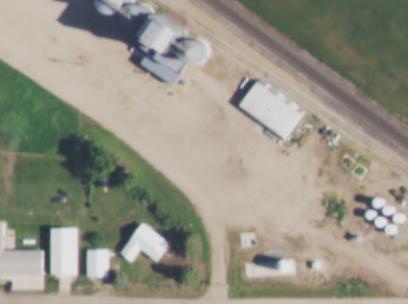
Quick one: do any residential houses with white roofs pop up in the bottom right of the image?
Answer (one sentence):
No, no residential house with a white roof is visible in the bottom right of the image.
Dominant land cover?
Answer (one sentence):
The largest share of the image is taken up by paved ground.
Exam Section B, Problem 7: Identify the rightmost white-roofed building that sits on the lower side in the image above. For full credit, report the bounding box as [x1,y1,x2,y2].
[120,224,170,262]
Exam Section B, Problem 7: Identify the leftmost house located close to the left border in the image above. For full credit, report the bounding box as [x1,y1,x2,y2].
[0,224,44,277]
